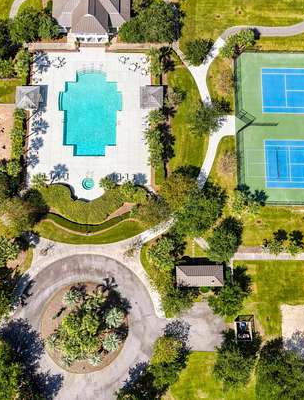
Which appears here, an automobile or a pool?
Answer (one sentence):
Looking from above, you can make out a pool.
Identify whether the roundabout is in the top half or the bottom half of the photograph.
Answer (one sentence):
You can find the roundabout in the bottom half.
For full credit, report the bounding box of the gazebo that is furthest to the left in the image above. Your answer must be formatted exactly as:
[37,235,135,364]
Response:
[15,86,42,111]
